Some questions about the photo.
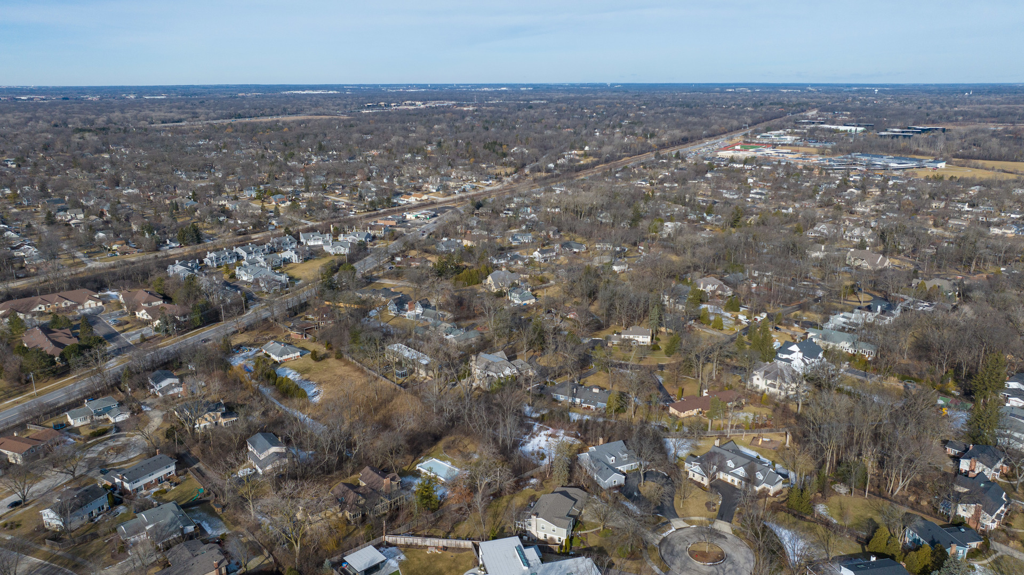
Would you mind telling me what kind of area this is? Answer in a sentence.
This image shows a residential area.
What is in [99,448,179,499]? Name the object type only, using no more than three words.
house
